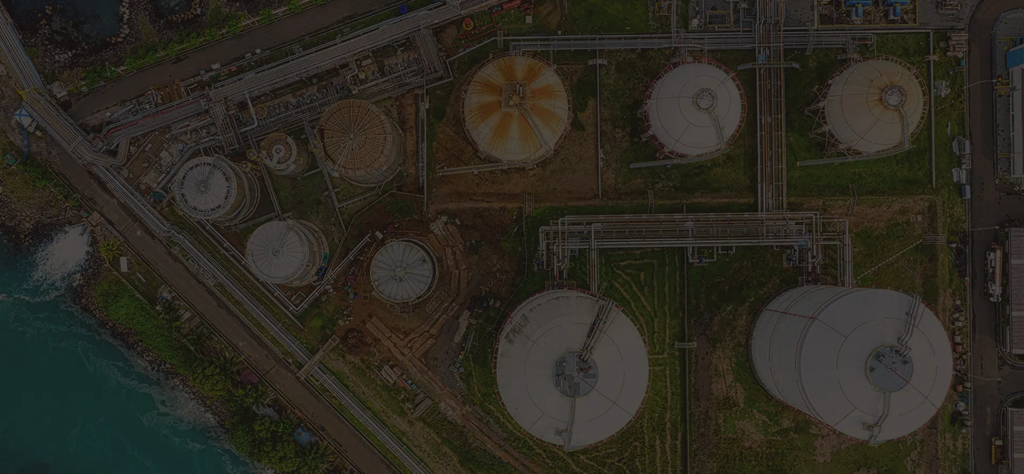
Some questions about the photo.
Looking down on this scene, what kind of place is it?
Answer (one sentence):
What you see here is an industrial area.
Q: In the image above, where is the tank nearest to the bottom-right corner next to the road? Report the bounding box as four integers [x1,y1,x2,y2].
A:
[748,277,954,445]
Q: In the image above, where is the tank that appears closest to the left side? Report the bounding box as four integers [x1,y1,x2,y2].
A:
[174,154,260,224]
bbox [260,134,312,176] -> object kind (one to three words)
storage tank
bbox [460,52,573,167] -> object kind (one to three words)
storage tank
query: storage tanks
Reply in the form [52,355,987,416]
[369,238,437,310]
[246,219,329,287]
[803,51,928,162]
[495,283,650,452]
[460,52,573,167]
[637,57,747,163]
[748,277,954,445]
[313,100,408,190]
[260,134,312,176]
[174,154,260,224]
